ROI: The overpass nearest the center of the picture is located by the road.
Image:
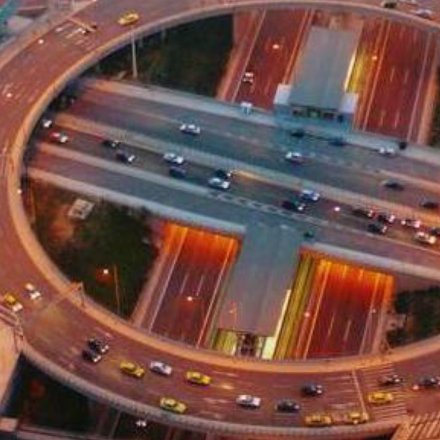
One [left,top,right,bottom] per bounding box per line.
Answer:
[26,71,440,282]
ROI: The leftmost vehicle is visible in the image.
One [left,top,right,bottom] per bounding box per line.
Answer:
[1,294,22,312]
